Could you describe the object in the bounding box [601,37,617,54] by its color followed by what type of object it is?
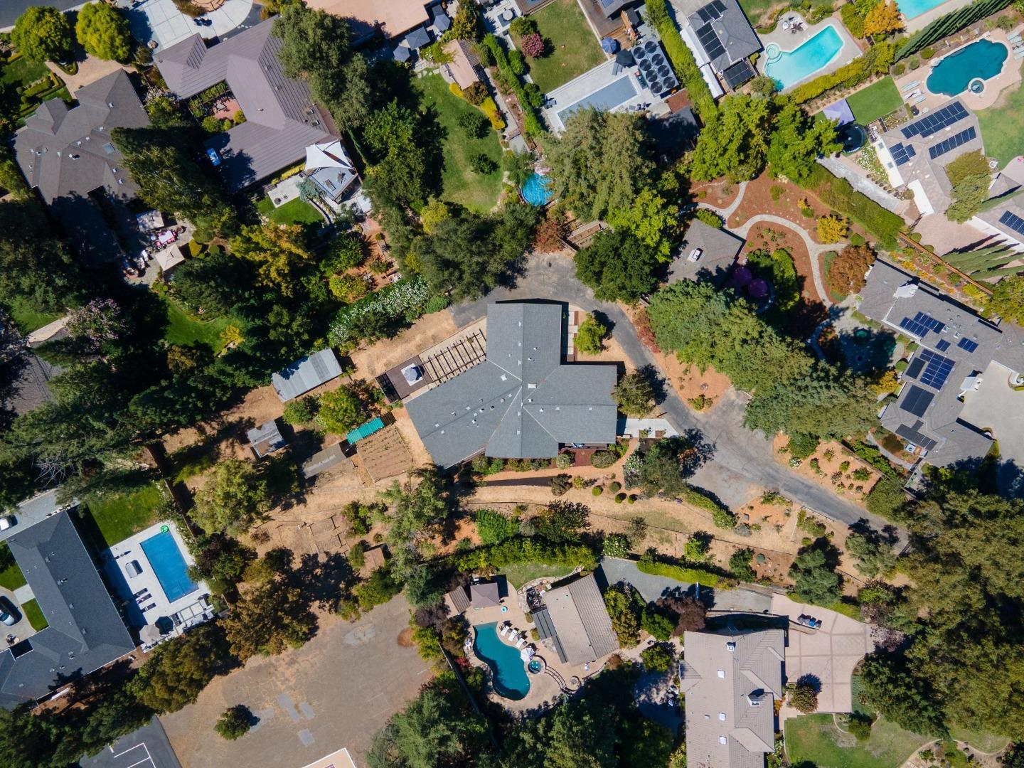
blue umbrella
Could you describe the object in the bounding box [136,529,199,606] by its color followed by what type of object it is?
blue swimming pool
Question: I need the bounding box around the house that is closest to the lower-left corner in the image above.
[0,510,145,707]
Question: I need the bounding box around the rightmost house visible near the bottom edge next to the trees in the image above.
[678,622,786,768]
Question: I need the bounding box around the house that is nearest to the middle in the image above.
[404,303,618,469]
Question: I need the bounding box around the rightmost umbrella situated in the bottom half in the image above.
[520,646,534,661]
